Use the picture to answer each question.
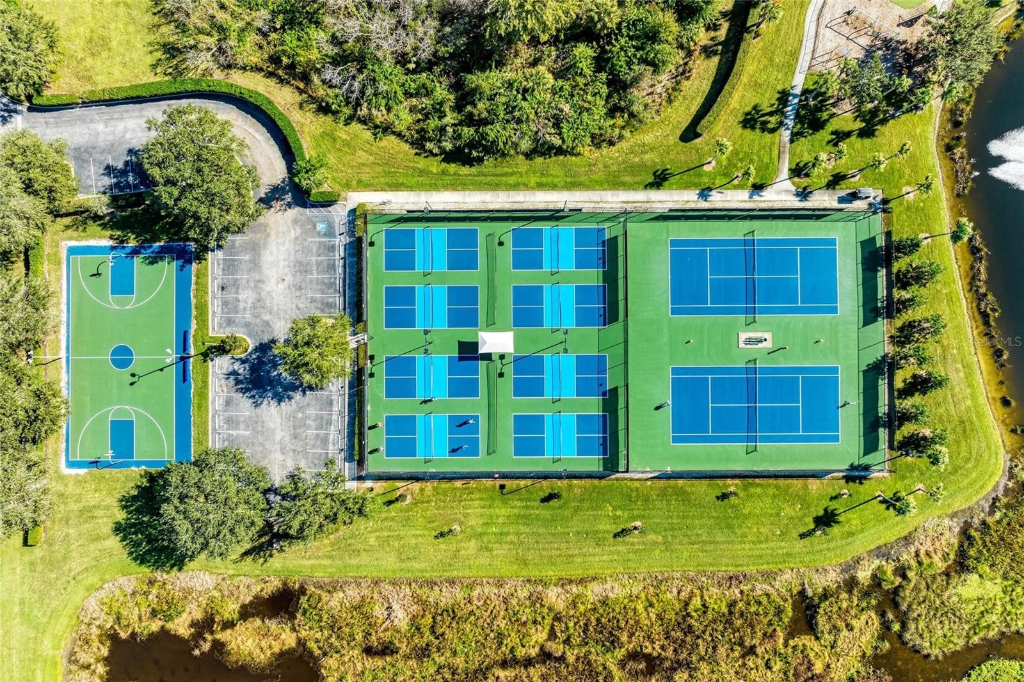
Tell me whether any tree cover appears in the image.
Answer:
Yes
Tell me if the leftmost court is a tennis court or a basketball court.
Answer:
basketball court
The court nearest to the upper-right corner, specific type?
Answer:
tennis court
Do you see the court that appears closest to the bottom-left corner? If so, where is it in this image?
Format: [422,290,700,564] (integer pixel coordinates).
[60,241,195,474]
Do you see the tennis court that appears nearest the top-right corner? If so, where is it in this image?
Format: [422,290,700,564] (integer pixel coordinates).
[670,237,839,316]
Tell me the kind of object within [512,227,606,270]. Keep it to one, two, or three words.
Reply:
sports court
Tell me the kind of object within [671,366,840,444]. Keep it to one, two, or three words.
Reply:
tennis court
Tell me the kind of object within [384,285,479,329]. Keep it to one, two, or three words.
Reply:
sports court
